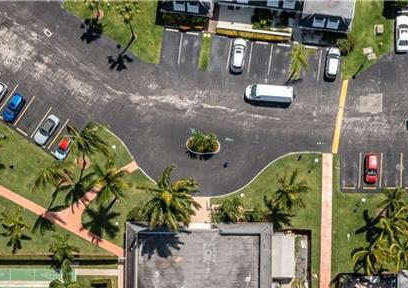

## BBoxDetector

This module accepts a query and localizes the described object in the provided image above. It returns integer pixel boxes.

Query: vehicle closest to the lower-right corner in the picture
[365,154,380,185]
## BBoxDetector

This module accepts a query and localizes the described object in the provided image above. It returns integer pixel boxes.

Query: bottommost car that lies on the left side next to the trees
[52,136,71,161]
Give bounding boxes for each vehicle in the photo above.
[244,83,295,104]
[34,113,60,147]
[52,136,71,161]
[229,37,245,75]
[324,48,341,83]
[394,15,408,53]
[1,91,26,124]
[365,154,380,185]
[0,81,9,102]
